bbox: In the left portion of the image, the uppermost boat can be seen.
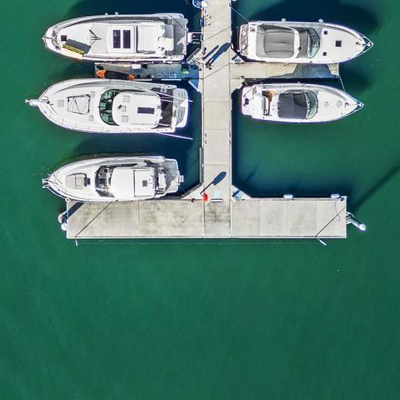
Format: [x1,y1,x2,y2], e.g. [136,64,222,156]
[38,10,202,63]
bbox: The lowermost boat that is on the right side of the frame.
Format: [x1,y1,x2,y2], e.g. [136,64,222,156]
[241,80,367,122]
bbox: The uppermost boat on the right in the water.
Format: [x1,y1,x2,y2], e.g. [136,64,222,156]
[236,20,376,63]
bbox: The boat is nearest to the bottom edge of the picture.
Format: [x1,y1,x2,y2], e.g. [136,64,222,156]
[41,154,183,203]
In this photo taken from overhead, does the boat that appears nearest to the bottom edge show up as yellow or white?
white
